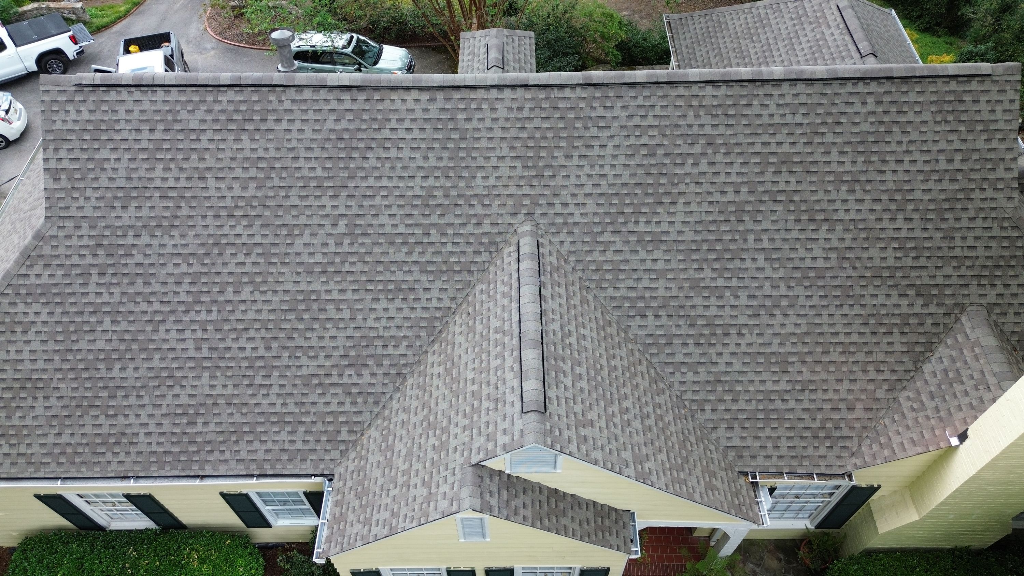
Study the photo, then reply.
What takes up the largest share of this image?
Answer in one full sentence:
What you mostly see from above here is buildings.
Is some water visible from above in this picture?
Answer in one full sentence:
No, there is no water in the image.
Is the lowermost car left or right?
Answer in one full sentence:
The lowermost car appears in the left half of the scene.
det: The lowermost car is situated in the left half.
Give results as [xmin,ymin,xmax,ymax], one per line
[0,91,30,152]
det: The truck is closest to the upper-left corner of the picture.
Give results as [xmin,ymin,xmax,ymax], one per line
[0,5,94,88]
